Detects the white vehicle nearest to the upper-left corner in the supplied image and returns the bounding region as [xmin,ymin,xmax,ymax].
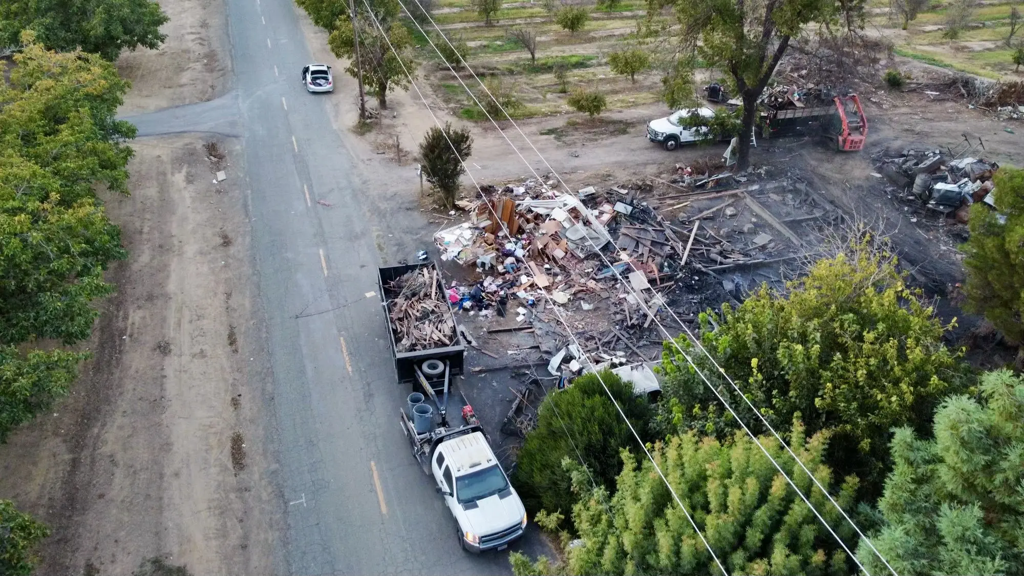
[297,63,334,92]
